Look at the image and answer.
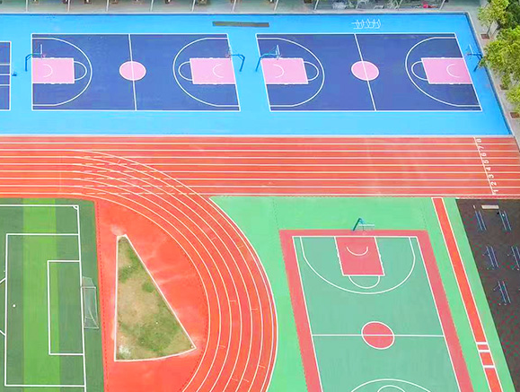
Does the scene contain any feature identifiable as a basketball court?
Yes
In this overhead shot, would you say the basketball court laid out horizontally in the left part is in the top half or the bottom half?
top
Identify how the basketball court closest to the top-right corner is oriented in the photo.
from side to side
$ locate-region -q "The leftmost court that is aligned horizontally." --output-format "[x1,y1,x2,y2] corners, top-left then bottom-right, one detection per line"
[32,33,241,111]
